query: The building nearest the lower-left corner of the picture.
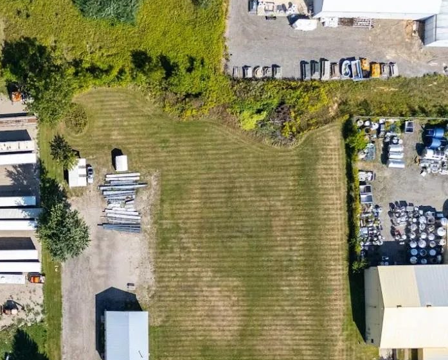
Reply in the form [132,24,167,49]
[100,310,149,360]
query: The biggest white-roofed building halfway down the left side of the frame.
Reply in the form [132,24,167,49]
[66,158,87,188]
